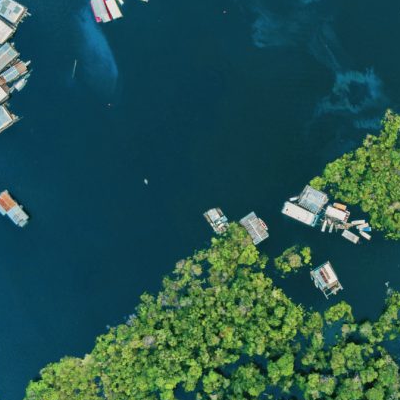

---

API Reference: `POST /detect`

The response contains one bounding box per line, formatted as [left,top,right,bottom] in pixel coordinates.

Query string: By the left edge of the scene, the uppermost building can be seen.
[0,0,29,26]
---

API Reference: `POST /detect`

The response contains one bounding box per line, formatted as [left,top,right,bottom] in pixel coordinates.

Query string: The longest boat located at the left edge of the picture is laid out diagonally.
[9,74,30,93]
